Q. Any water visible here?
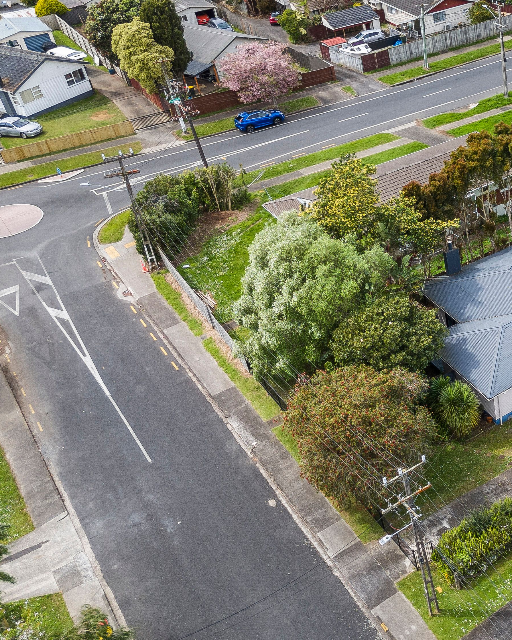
No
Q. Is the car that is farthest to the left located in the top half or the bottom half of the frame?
top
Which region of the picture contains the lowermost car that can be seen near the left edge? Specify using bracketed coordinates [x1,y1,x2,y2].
[0,119,39,140]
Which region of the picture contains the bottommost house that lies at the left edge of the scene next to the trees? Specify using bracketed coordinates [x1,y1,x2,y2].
[0,38,94,116]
